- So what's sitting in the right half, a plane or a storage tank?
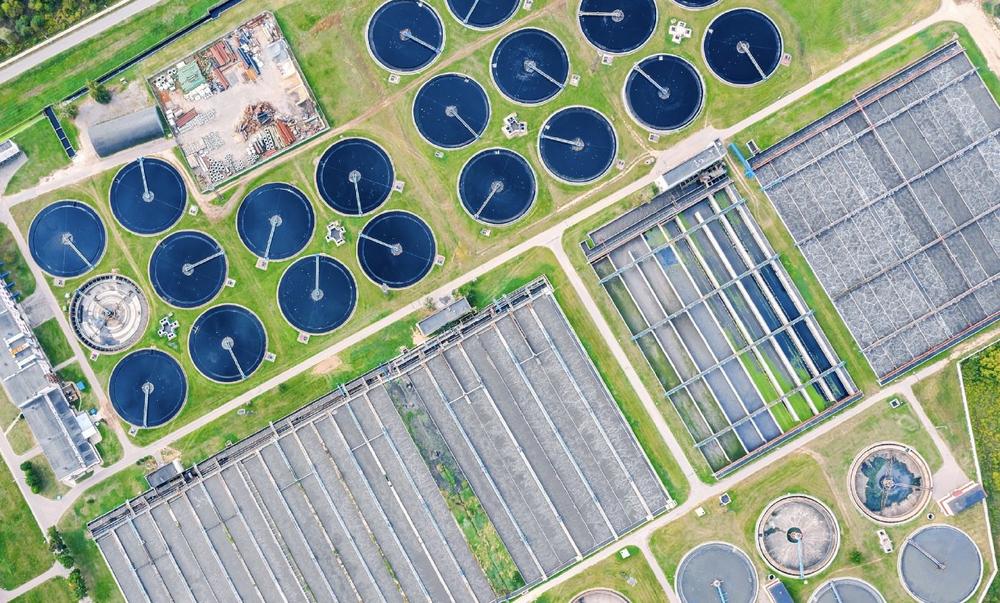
storage tank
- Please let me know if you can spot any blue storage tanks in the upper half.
Yes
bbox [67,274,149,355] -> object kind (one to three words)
storage tank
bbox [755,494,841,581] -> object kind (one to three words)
storage tank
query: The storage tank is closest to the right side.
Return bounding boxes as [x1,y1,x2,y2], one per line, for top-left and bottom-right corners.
[897,523,984,603]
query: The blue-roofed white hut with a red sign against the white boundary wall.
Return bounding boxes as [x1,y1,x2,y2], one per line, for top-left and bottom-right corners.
[936,481,986,517]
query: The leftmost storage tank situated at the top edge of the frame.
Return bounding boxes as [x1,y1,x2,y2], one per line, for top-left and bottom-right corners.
[365,0,445,74]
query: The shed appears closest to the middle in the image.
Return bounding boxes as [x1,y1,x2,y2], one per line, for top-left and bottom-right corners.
[417,298,472,335]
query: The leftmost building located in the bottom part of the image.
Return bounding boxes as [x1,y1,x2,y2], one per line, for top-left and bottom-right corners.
[0,261,105,489]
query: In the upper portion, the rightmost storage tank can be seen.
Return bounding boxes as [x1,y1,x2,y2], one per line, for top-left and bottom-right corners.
[701,5,784,88]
